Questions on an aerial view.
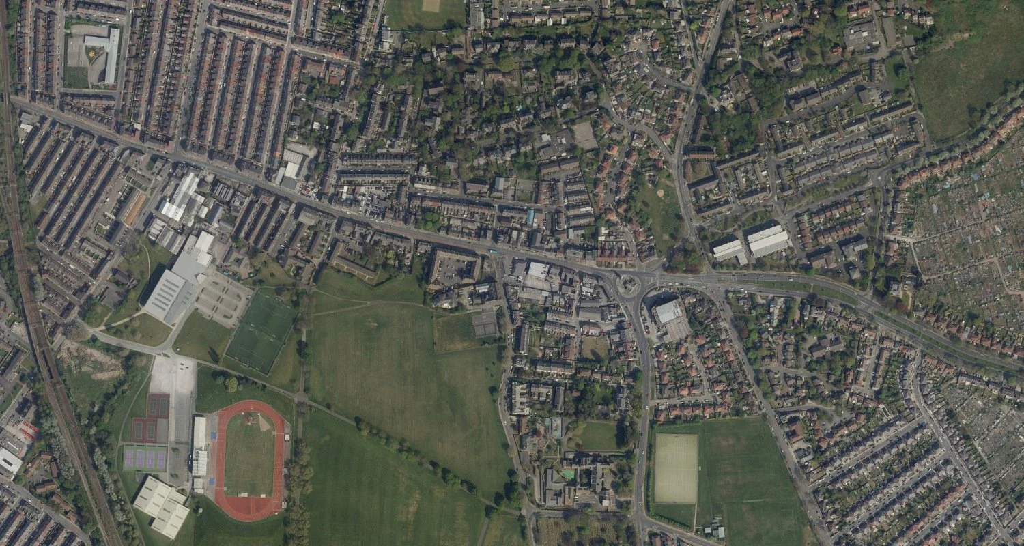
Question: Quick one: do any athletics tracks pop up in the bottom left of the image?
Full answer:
Yes, an athletics track is visible in the bottom left of the image.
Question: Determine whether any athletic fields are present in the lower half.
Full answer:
Yes, an athletic field can be seen in the lower half.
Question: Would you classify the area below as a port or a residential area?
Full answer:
The picture captures a residential area.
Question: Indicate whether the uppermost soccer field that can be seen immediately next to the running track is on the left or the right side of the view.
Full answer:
You can find the uppermost soccer field that can be seen immediately next to the running track on the left side of the picture.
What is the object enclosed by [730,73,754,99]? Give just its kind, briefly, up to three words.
building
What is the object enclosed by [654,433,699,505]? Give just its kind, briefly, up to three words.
sports field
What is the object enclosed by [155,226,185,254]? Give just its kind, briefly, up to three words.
shed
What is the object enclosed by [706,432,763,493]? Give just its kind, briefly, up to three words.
soccer field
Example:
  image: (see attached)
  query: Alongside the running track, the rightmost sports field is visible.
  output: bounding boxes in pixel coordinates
[296,400,486,546]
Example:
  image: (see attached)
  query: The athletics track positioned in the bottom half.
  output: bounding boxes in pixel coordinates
[214,400,285,523]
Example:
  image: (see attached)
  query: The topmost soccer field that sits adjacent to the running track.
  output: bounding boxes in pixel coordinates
[224,290,300,376]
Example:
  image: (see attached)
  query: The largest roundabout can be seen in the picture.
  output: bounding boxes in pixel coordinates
[609,266,649,306]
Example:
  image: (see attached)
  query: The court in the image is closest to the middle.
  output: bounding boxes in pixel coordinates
[473,313,498,337]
